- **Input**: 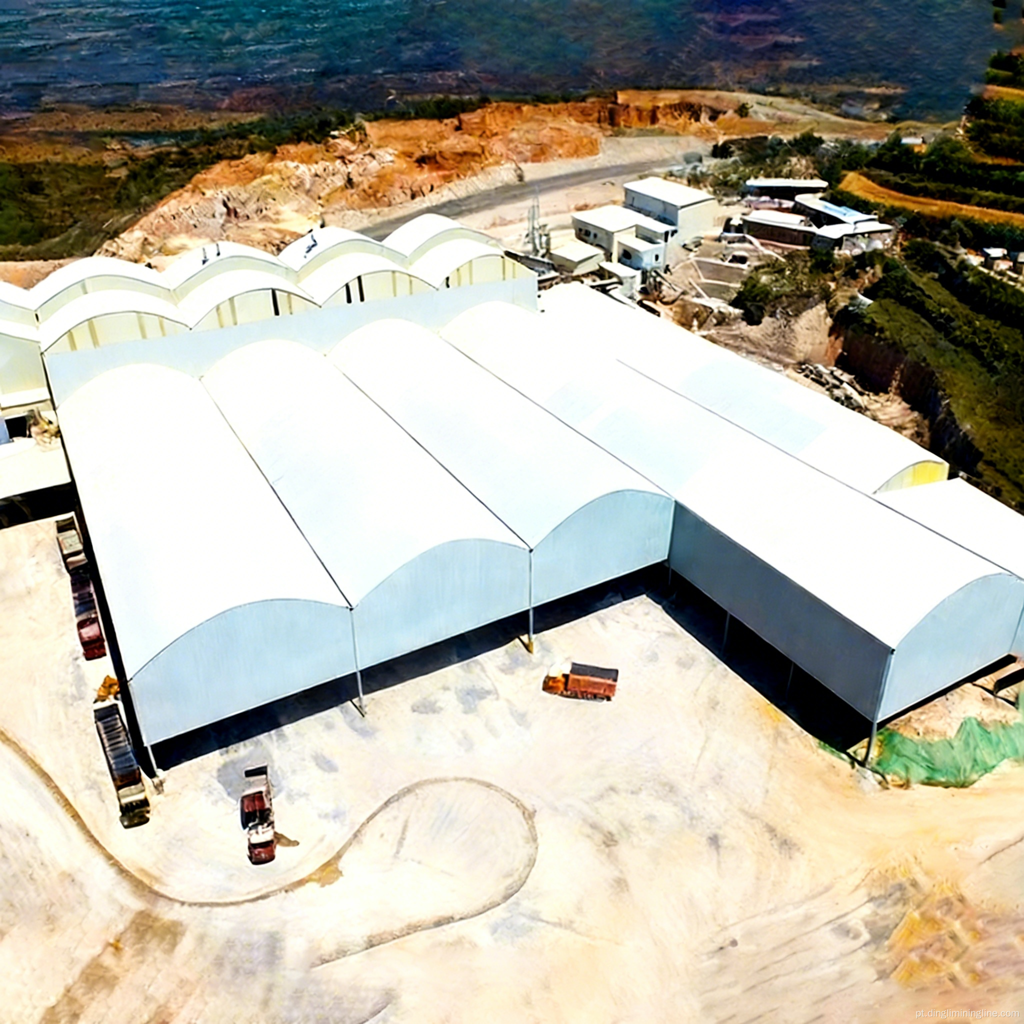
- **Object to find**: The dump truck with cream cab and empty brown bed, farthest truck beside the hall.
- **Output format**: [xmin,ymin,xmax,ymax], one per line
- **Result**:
[42,503,90,566]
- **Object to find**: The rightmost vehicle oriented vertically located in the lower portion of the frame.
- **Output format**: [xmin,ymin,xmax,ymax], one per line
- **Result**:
[236,754,274,862]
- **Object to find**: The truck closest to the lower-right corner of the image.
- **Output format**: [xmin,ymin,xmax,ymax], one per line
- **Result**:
[538,661,614,700]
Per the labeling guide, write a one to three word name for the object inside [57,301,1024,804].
warehouse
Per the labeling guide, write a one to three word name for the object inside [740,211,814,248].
building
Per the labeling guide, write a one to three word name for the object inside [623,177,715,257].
house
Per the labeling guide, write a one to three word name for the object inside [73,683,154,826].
truck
